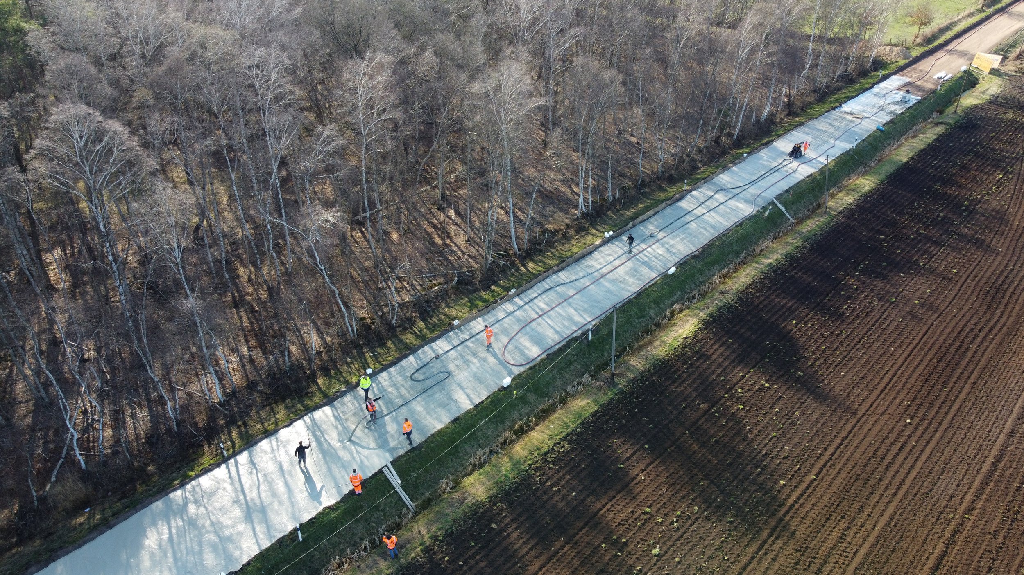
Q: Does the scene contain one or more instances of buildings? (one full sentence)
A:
No, there isn't any building down there.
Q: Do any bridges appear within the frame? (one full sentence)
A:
No, no bridge is visible in the scene.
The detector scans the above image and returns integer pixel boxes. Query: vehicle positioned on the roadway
[792,143,805,159]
